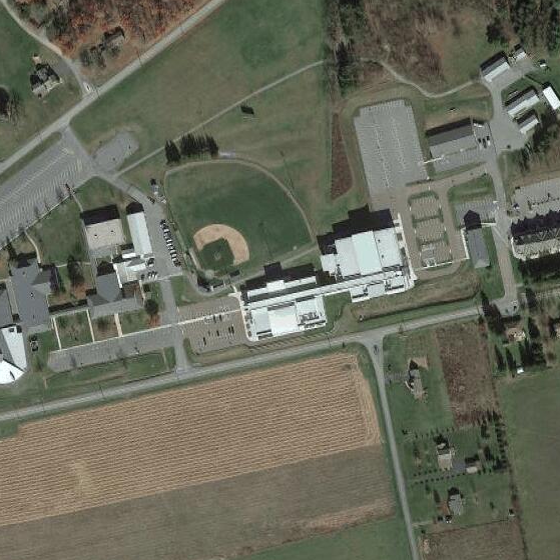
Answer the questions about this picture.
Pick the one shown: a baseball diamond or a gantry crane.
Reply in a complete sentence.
Visible in the photo is a baseball diamond.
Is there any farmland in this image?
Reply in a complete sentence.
Yes, farmland can be seen from above here.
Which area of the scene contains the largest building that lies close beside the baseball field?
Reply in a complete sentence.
The largest building that lies close beside the baseball field is located in the center region of the scene.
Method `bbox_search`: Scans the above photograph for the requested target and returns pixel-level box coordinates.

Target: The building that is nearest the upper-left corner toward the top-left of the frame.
[32,69,60,96]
